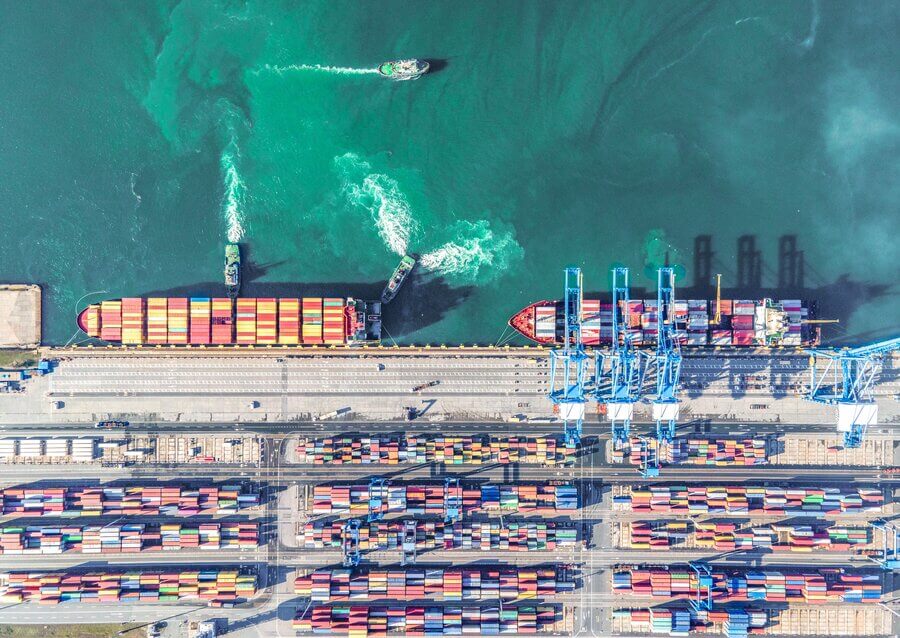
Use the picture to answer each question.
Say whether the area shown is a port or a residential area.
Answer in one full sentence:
What you see here is a port.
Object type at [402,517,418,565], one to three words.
crane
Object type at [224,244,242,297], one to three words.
boat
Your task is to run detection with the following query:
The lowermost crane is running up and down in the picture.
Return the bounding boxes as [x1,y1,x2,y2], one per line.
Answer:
[687,560,712,611]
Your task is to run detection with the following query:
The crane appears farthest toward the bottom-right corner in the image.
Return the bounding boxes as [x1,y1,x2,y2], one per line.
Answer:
[868,520,898,571]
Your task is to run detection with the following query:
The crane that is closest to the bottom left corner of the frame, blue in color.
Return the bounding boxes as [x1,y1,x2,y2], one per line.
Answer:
[343,517,362,565]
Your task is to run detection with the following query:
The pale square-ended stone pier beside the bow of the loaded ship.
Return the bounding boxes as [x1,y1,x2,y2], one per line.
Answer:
[0,285,45,346]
